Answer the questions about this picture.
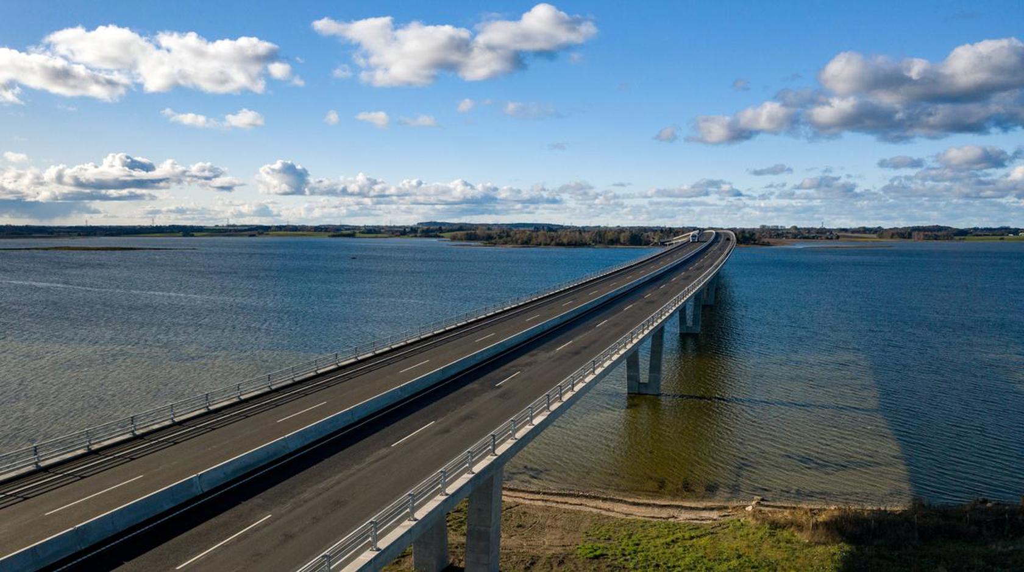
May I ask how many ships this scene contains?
none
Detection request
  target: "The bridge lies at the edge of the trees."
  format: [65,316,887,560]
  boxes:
[0,231,737,572]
